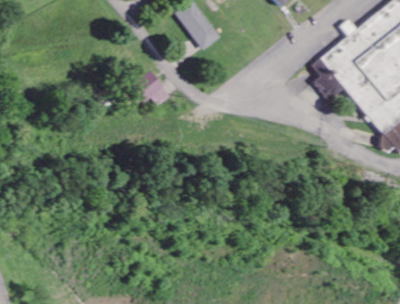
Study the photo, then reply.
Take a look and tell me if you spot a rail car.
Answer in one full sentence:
No, the frame has no rail car in it.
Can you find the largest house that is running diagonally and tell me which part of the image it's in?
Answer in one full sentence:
Look in the top portion of the view to spot the largest house that is running diagonally.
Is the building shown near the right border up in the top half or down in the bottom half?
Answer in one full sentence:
The building shown near the right border is in the top half of the image.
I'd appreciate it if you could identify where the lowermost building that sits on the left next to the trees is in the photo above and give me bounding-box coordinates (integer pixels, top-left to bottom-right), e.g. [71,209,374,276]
[144,80,170,106]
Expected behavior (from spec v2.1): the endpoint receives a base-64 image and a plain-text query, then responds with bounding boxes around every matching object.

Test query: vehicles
[286,32,296,45]
[308,14,318,28]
